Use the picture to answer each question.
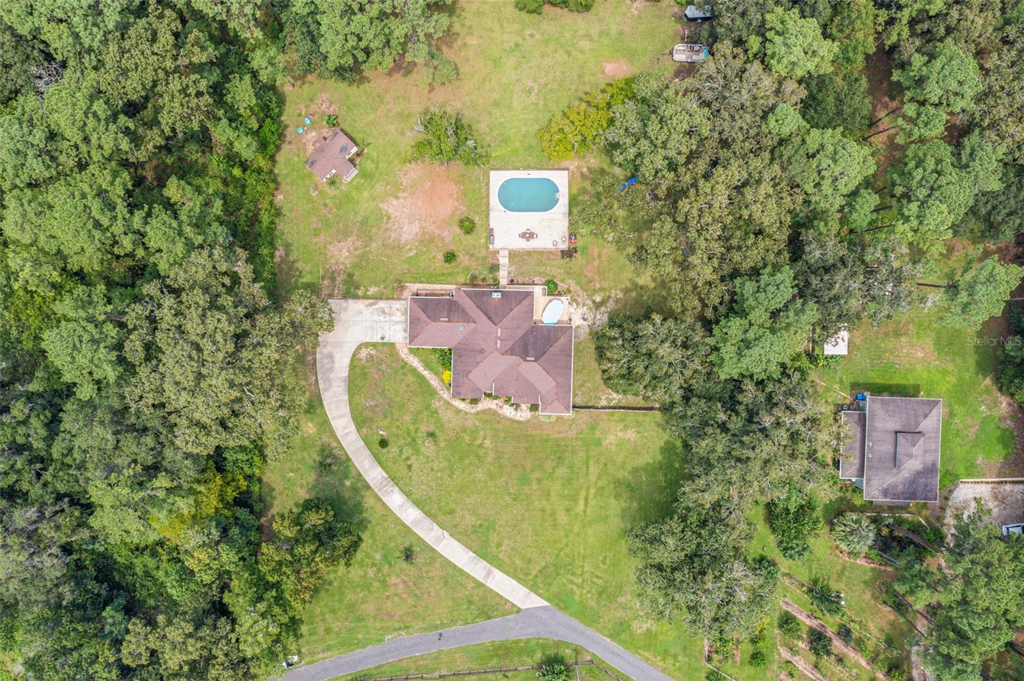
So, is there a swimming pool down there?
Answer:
Yes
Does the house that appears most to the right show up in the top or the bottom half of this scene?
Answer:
bottom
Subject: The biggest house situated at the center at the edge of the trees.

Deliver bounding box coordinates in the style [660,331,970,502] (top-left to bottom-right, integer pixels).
[408,288,574,415]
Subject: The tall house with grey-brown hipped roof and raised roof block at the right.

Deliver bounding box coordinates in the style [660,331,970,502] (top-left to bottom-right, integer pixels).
[833,396,943,506]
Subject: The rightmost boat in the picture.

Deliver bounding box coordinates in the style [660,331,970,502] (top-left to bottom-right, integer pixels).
[673,42,713,61]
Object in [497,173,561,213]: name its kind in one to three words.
swimming pool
